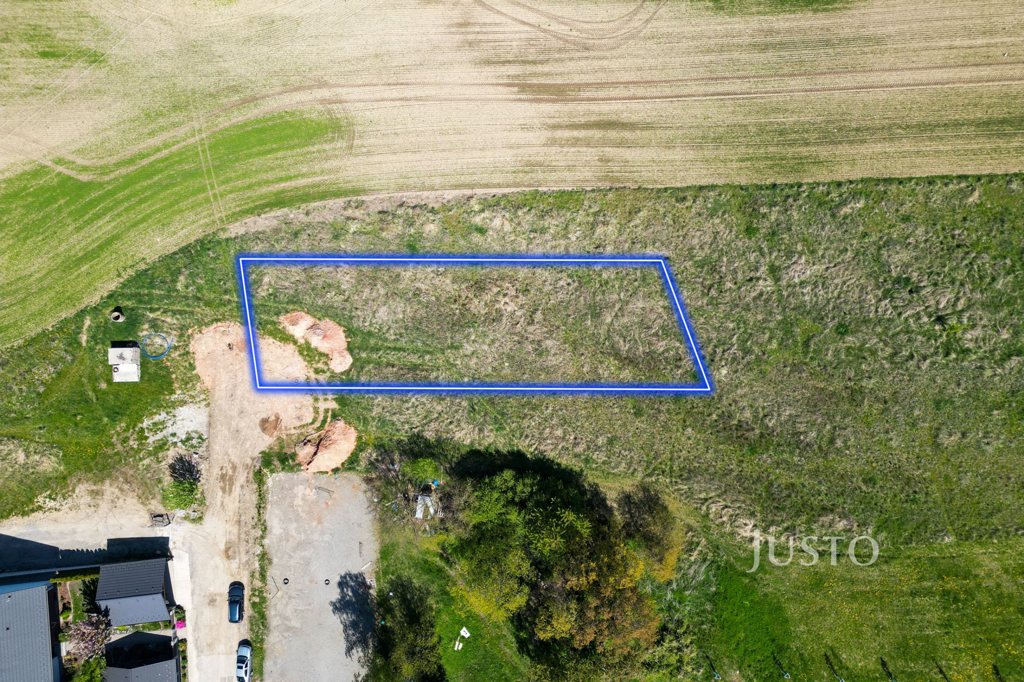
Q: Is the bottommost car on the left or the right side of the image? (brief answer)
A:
left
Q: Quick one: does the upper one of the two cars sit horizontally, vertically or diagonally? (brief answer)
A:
vertically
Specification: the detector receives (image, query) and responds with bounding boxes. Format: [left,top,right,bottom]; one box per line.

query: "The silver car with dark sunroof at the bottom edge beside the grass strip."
[234,644,254,682]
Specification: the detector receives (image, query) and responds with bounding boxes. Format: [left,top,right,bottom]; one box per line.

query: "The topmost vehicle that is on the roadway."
[226,583,246,624]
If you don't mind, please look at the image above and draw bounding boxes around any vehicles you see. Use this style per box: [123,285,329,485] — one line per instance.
[234,644,254,682]
[226,583,246,624]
